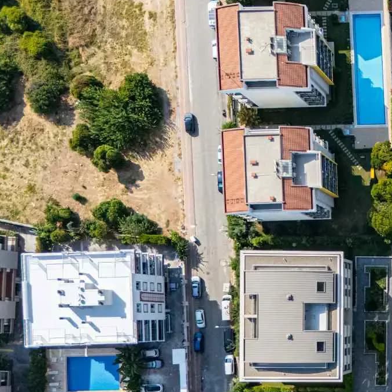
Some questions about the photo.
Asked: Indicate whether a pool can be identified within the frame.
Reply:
Yes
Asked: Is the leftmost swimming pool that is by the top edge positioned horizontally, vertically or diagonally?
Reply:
vertically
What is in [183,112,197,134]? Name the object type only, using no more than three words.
vehicle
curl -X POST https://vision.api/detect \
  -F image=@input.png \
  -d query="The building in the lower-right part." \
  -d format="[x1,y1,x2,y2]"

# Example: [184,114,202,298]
[239,251,355,382]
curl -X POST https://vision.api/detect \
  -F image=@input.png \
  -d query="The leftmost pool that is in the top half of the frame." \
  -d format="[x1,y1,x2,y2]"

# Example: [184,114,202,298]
[351,10,386,127]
